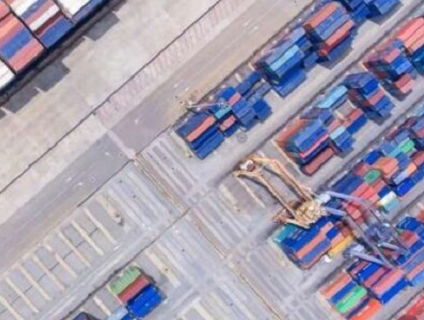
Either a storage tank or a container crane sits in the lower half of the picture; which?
container crane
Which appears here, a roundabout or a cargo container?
cargo container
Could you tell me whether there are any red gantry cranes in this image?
No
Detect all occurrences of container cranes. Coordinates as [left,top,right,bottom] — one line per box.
[316,189,415,271]
[232,154,326,235]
